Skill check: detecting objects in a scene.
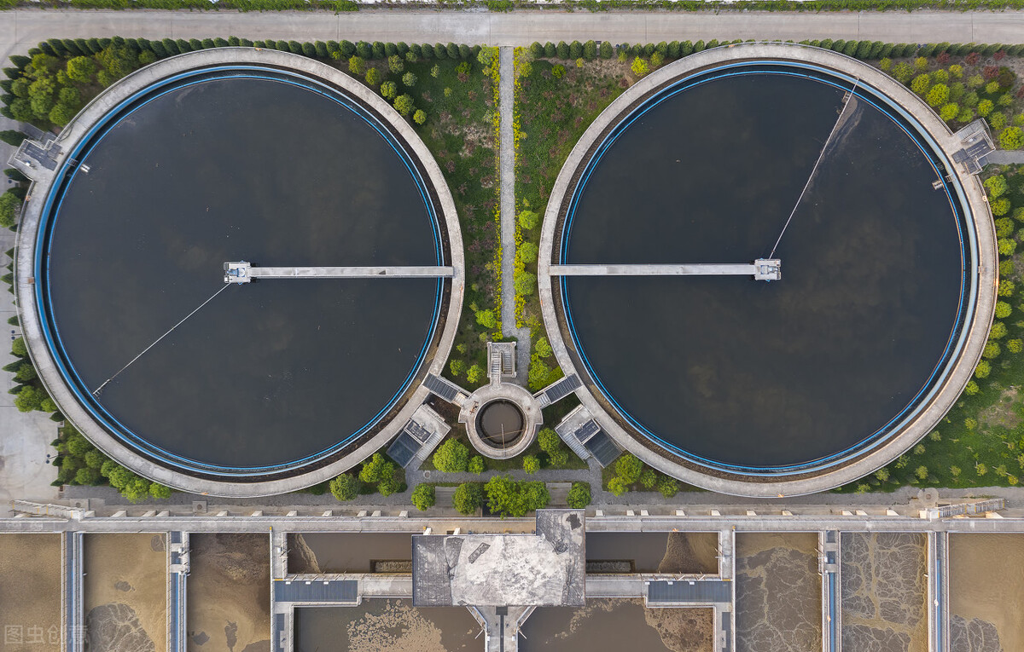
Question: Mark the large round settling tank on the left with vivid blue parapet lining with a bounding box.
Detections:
[16,48,466,496]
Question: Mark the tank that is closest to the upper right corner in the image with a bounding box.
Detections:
[537,41,996,499]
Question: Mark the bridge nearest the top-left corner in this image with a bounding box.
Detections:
[253,266,454,278]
